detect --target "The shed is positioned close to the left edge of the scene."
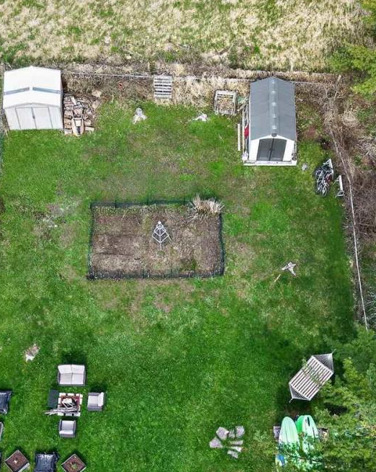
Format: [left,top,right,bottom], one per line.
[1,66,65,131]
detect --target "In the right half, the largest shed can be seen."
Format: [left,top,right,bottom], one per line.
[244,75,301,166]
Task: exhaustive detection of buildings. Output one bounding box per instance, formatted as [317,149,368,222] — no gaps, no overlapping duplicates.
[1,66,65,131]
[244,75,301,166]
